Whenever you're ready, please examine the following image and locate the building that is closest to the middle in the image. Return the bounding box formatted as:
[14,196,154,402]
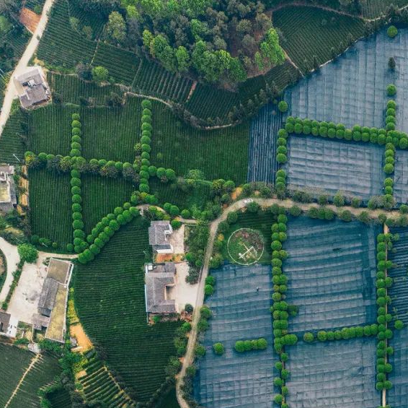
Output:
[149,219,176,257]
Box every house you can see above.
[31,258,75,344]
[0,166,18,213]
[149,219,176,257]
[0,312,17,338]
[15,70,49,110]
[145,263,177,315]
